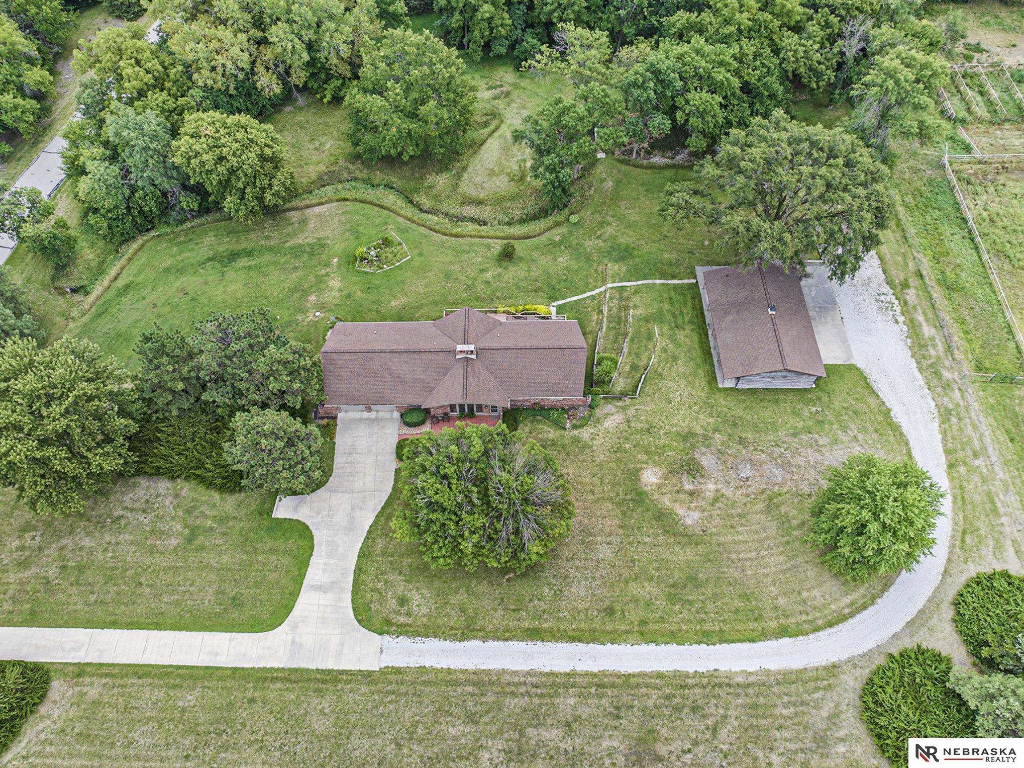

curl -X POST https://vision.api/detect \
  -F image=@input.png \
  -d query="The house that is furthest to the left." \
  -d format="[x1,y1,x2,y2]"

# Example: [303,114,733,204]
[322,306,592,417]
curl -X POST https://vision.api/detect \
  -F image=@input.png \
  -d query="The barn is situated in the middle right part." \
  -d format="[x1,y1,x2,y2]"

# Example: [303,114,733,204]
[704,260,831,389]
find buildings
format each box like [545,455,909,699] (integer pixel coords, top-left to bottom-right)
[704,260,831,389]
[322,306,592,417]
